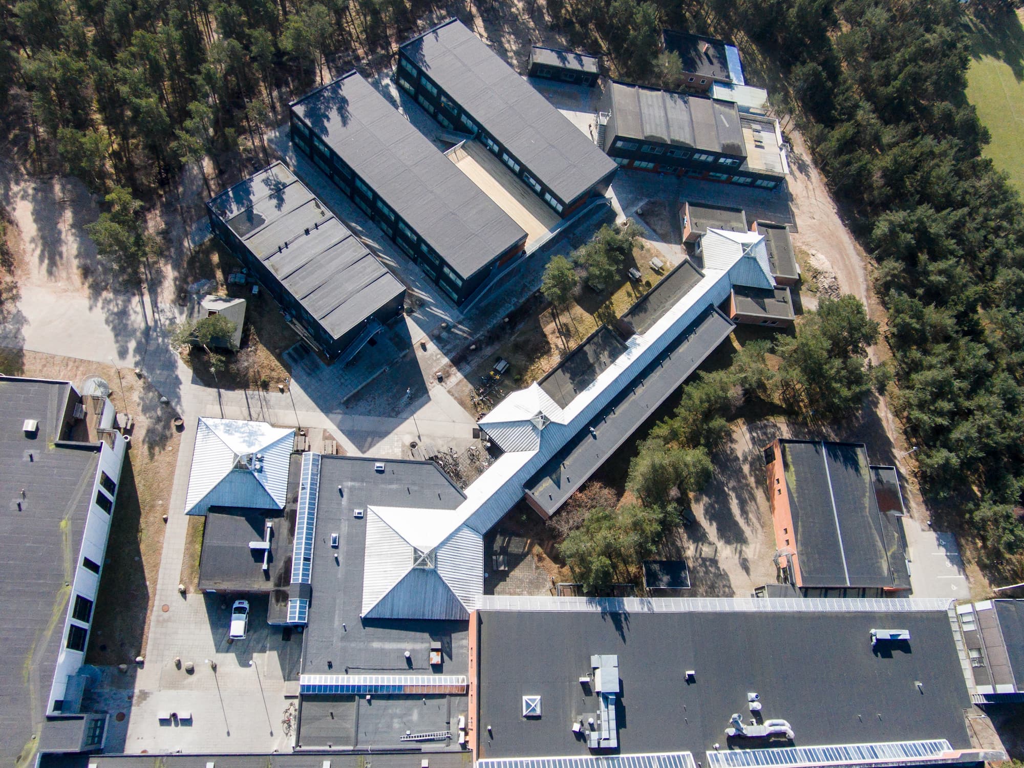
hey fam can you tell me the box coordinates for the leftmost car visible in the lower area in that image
[230,600,249,640]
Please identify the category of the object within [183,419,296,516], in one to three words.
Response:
building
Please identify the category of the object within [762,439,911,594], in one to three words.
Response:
building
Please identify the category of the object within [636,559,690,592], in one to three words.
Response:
shed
